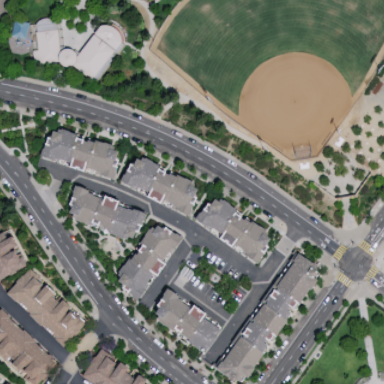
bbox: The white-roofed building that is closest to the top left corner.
[34,18,126,78]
